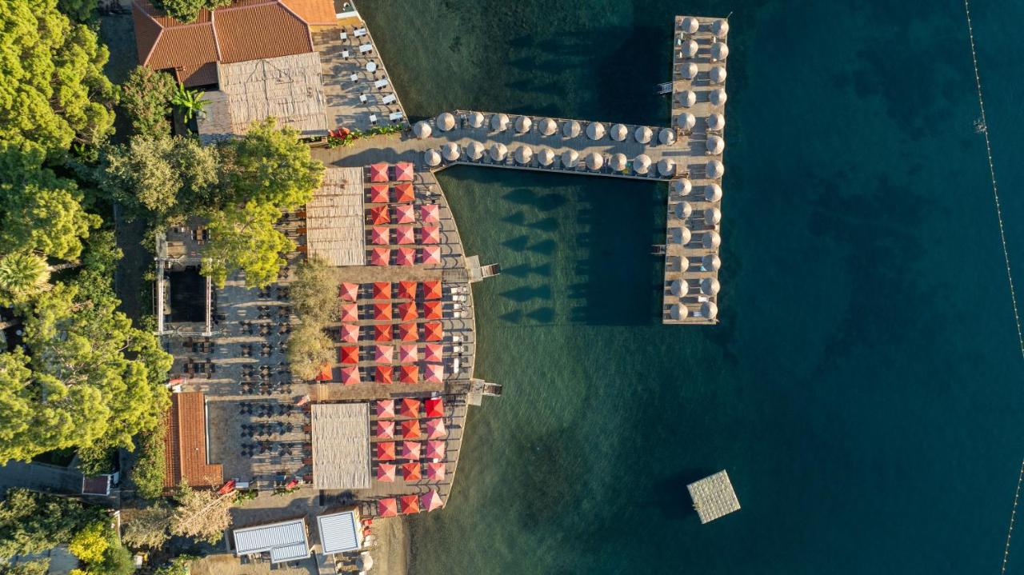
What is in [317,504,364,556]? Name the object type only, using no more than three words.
building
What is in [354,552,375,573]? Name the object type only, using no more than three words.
umbrella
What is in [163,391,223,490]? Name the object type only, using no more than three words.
shed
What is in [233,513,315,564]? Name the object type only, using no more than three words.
building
